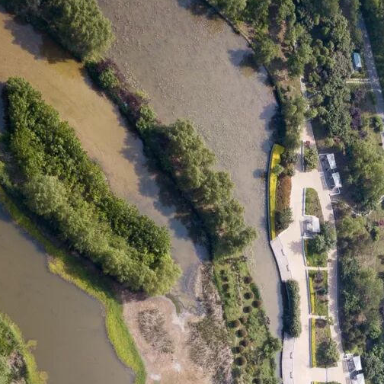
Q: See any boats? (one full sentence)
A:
No, there is no boat in the image.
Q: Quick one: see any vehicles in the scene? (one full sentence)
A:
No, the picture doesn't show any vehicle.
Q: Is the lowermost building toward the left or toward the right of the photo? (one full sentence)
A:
You can find the lowermost building on the right side of the picture.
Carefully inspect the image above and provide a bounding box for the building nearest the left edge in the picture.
[302,215,320,238]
